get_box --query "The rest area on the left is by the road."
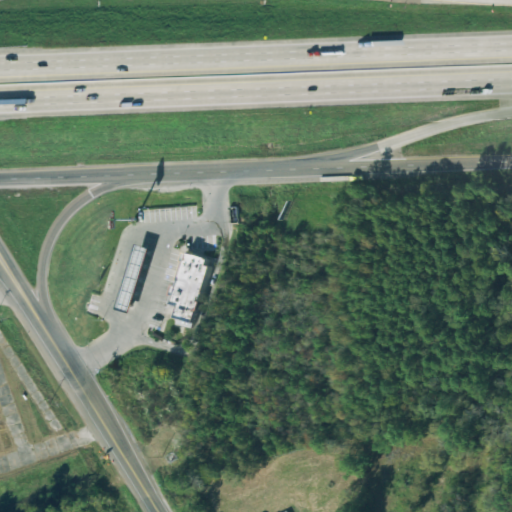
[72,186,234,372]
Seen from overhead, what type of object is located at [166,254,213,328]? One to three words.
building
